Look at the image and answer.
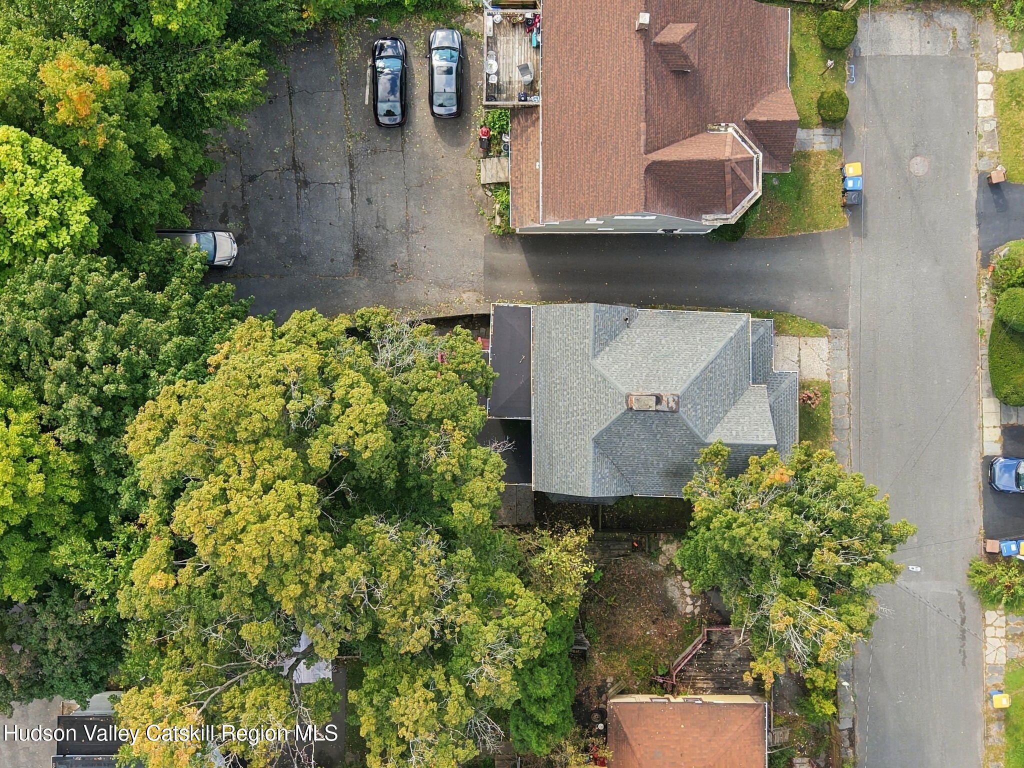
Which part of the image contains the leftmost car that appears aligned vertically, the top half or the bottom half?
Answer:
top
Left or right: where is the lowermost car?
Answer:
right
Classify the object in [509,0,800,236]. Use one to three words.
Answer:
house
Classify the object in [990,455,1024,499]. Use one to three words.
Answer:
car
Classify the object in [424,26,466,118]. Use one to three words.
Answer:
car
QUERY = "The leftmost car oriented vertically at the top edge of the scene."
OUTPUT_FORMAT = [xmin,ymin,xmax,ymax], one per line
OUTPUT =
[367,34,409,126]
